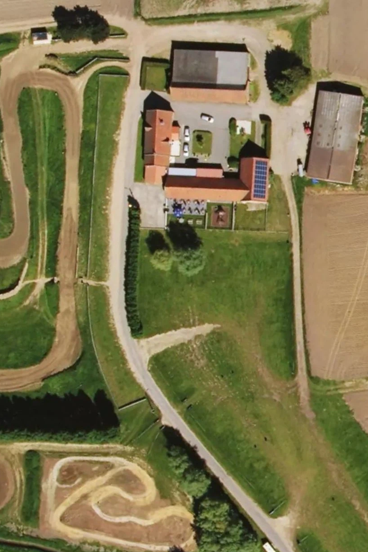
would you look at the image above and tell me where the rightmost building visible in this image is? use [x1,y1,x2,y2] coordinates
[305,90,365,185]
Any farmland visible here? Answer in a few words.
Yes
